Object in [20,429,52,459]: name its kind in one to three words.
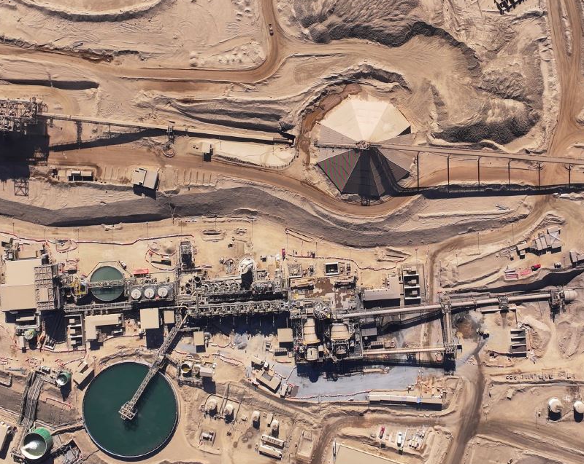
storage tank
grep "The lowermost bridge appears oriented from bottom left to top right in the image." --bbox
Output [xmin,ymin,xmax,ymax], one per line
[128,320,188,410]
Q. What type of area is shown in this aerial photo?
industrial area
